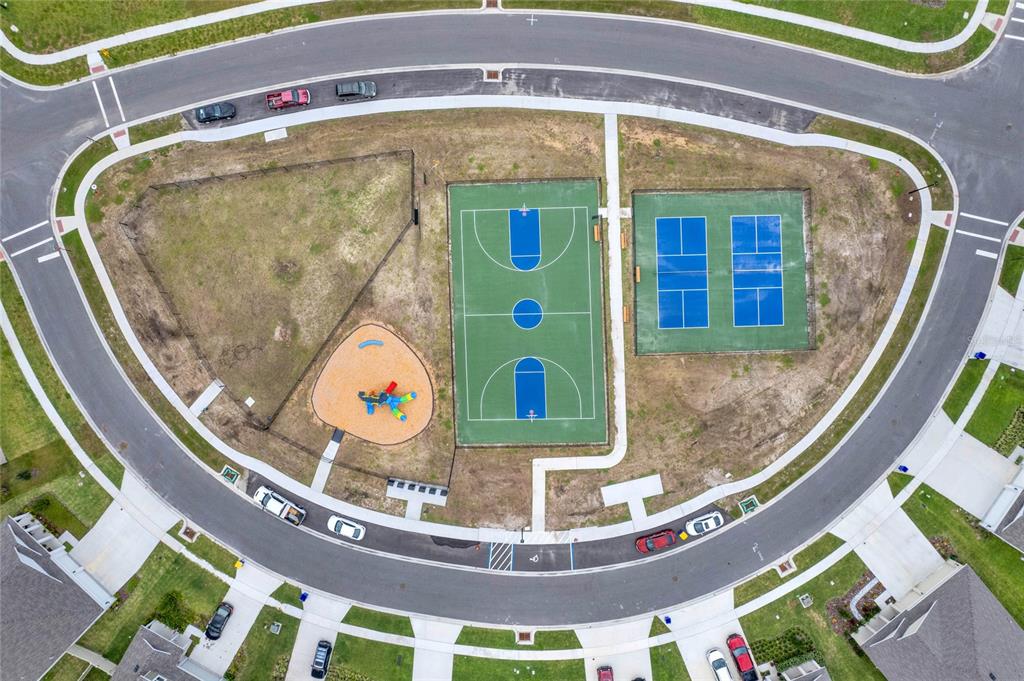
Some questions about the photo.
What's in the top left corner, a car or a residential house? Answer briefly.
car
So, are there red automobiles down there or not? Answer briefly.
Yes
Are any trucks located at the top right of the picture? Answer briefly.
No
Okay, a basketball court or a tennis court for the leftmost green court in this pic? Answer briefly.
basketball court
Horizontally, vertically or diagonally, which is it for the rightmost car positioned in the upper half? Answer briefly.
horizontally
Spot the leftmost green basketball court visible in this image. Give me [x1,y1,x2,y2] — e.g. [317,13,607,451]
[447,178,609,447]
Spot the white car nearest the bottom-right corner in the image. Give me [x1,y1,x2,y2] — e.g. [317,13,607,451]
[708,647,735,681]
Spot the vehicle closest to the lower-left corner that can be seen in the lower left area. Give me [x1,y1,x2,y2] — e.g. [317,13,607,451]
[207,600,234,640]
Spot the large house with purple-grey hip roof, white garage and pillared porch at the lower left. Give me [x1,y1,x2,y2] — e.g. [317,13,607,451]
[0,510,115,681]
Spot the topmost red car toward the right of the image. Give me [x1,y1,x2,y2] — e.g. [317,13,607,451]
[635,528,677,553]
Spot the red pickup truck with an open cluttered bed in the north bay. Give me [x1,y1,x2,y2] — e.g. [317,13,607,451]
[264,87,312,111]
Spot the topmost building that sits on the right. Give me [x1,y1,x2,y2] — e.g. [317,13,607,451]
[983,467,1024,557]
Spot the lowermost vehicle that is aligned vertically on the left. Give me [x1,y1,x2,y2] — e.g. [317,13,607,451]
[310,638,334,679]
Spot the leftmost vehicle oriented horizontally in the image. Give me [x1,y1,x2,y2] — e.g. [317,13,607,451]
[195,102,237,124]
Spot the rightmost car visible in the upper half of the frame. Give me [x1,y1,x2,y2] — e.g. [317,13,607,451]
[335,79,378,102]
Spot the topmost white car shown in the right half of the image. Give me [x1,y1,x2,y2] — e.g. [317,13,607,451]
[684,510,725,535]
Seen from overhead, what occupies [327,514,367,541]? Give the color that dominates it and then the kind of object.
white car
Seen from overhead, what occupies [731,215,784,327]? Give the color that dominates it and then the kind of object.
blue sports court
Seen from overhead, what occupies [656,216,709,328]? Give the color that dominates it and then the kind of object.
blue sports court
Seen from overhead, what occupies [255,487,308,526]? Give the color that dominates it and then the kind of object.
white truck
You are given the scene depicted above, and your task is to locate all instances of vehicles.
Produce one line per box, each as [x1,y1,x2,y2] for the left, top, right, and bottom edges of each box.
[596,664,615,681]
[310,638,334,679]
[264,87,312,111]
[635,528,677,553]
[327,514,367,541]
[684,510,725,535]
[207,600,234,640]
[728,633,761,681]
[708,647,735,681]
[335,79,378,102]
[255,487,308,526]
[195,102,237,124]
